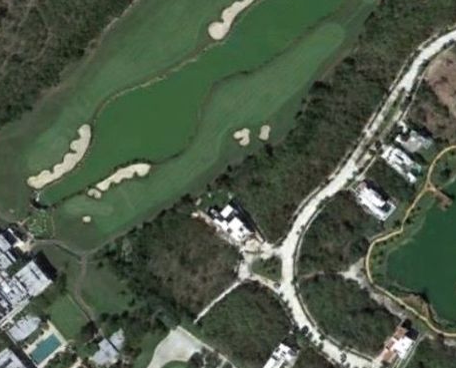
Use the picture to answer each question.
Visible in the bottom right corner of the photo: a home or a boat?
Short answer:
home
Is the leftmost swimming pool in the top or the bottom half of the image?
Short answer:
bottom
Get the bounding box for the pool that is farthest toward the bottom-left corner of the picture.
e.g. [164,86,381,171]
[25,320,66,368]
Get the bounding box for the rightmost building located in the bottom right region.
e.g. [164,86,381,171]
[382,328,421,368]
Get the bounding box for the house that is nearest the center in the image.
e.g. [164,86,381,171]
[210,203,260,249]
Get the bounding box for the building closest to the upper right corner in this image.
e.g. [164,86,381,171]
[394,130,431,156]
